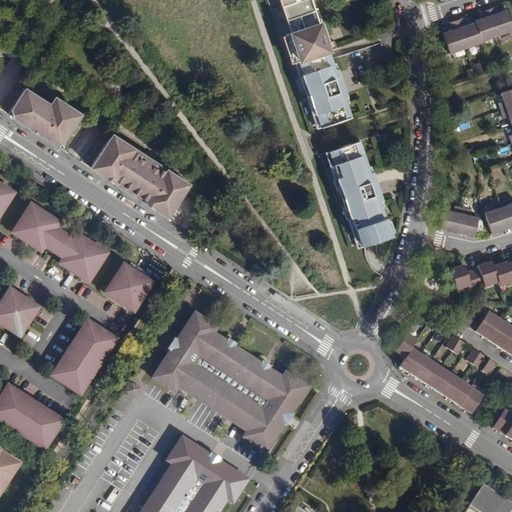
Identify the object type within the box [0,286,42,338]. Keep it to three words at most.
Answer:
building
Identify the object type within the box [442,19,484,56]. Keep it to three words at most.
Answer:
house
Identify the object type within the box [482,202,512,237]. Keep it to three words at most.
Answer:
house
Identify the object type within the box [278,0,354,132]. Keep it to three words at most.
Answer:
building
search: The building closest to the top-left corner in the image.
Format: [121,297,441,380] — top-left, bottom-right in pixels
[12,90,84,150]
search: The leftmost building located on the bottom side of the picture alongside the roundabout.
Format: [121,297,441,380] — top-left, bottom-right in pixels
[152,310,311,450]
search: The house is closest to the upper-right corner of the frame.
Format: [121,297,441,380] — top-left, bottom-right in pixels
[475,6,512,44]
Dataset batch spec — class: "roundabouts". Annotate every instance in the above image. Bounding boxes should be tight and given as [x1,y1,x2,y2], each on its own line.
[331,337,386,392]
